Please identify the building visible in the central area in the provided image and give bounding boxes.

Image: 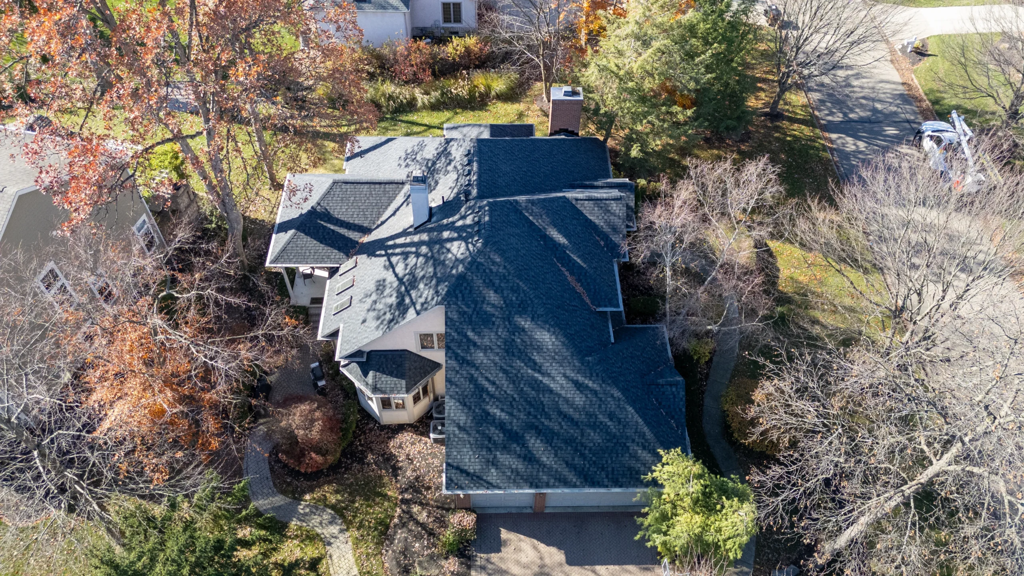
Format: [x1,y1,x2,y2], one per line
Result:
[264,84,691,518]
